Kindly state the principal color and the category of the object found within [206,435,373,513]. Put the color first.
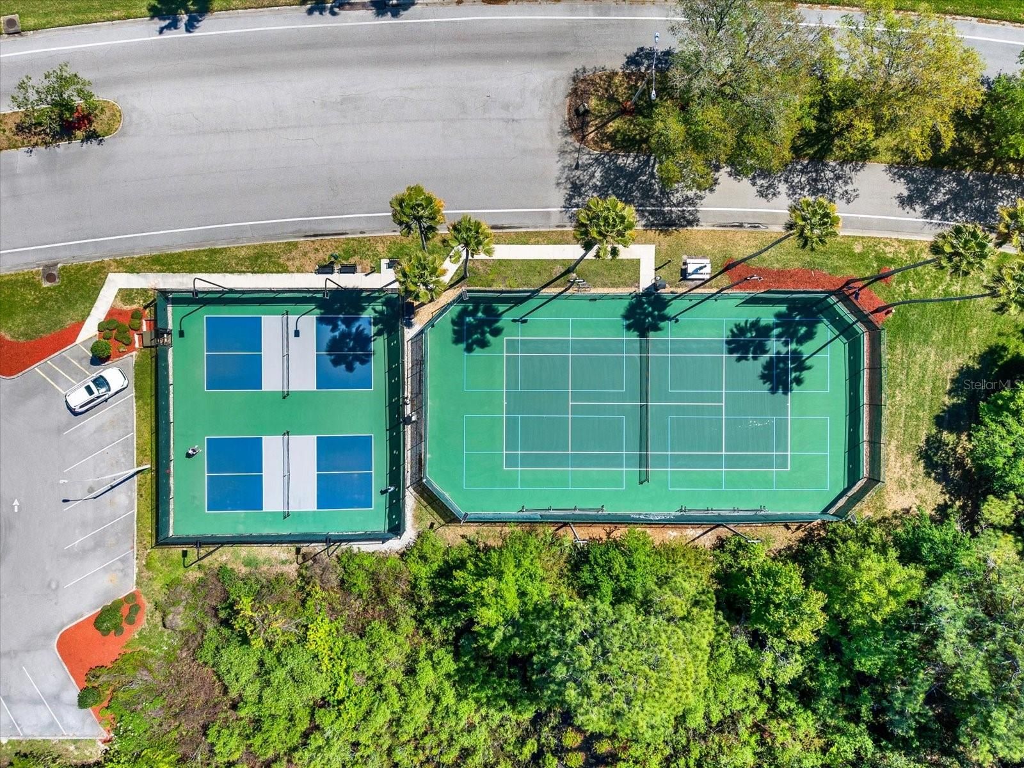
blue sports court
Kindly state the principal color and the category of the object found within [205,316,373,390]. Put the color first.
blue sports court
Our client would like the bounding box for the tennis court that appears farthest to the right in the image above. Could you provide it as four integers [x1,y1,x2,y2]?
[427,295,865,513]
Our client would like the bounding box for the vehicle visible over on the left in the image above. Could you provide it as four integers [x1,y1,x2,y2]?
[65,370,128,413]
